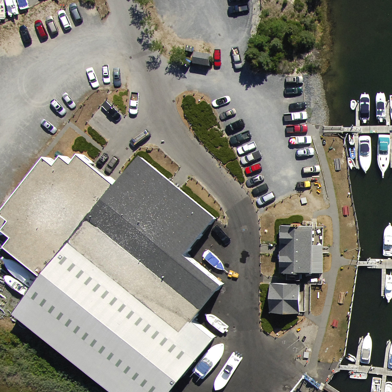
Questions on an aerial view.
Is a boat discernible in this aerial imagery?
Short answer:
Yes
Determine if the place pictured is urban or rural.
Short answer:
urban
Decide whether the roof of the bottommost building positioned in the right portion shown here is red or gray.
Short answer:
gray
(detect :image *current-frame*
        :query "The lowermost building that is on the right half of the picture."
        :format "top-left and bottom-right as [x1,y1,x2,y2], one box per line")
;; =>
[268,283,302,315]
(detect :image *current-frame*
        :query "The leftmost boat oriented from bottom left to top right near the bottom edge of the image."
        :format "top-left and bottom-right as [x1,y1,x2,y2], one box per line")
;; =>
[193,344,223,379]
